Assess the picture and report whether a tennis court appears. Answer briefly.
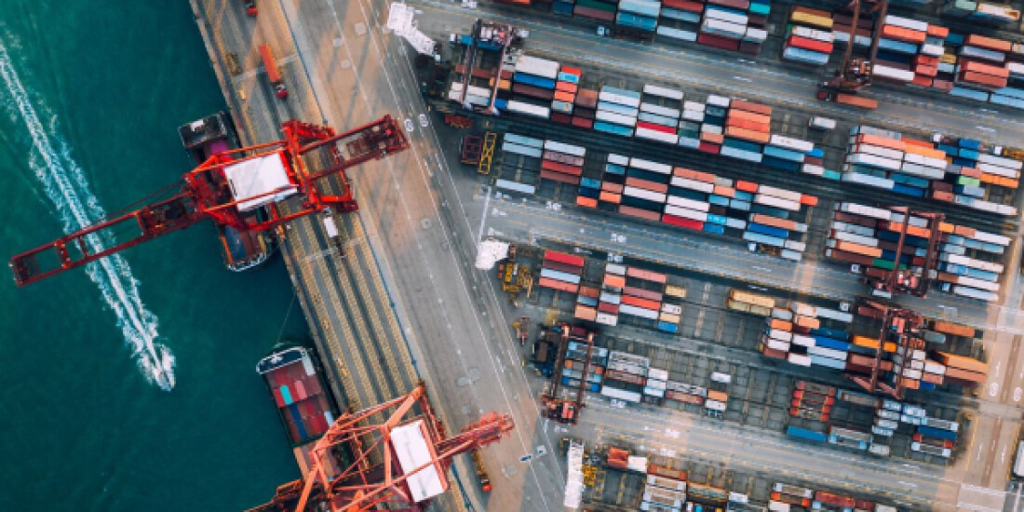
No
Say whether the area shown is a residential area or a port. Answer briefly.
port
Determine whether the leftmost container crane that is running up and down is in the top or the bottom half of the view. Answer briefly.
top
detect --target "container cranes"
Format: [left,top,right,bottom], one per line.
[459,16,519,117]
[811,0,893,95]
[10,115,406,296]
[539,315,596,419]
[860,201,945,299]
[259,379,521,512]
[838,297,920,399]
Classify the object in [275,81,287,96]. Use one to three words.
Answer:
vehicle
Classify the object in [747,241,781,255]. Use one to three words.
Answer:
vehicle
